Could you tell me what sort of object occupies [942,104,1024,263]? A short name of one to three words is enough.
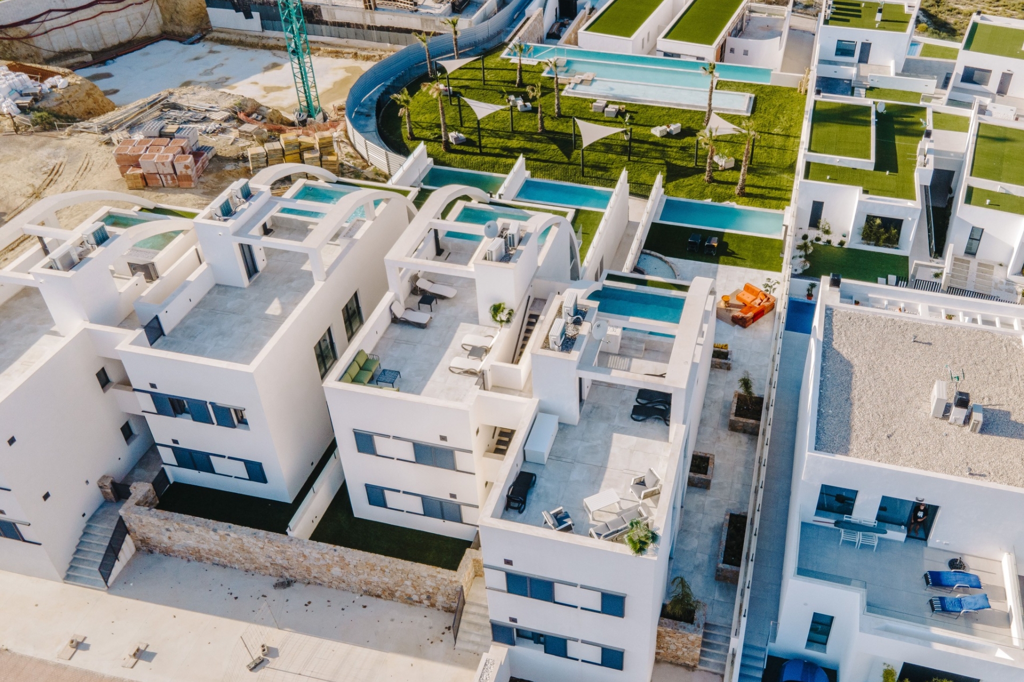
house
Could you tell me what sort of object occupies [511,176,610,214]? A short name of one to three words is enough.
swimming pool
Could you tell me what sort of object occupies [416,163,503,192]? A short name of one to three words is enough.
swimming pool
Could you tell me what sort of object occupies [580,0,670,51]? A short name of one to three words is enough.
building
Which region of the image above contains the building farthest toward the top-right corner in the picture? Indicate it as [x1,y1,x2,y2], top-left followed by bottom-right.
[945,10,1024,97]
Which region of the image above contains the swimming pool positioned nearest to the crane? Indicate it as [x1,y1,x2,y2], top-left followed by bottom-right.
[278,182,368,220]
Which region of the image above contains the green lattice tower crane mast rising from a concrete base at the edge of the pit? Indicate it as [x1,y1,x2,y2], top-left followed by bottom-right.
[273,0,325,121]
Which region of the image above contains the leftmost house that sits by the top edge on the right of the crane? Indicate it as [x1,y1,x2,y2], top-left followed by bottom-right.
[525,0,588,41]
